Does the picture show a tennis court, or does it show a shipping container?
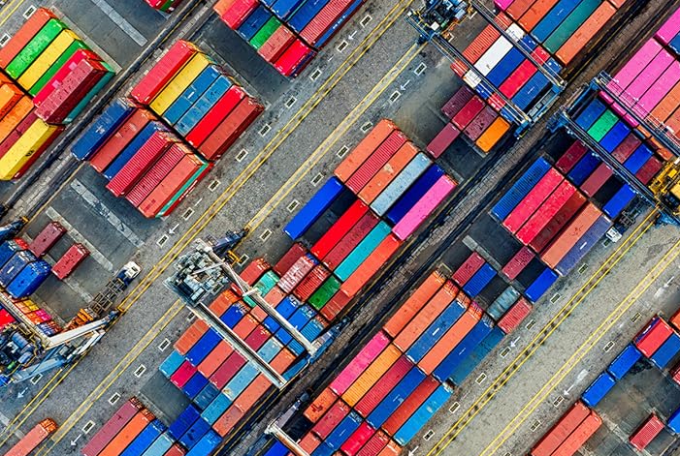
shipping container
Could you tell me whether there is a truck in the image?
Yes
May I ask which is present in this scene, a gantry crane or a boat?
gantry crane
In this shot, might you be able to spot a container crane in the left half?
Yes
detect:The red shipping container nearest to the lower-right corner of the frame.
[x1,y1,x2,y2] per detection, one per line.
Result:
[629,412,665,451]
